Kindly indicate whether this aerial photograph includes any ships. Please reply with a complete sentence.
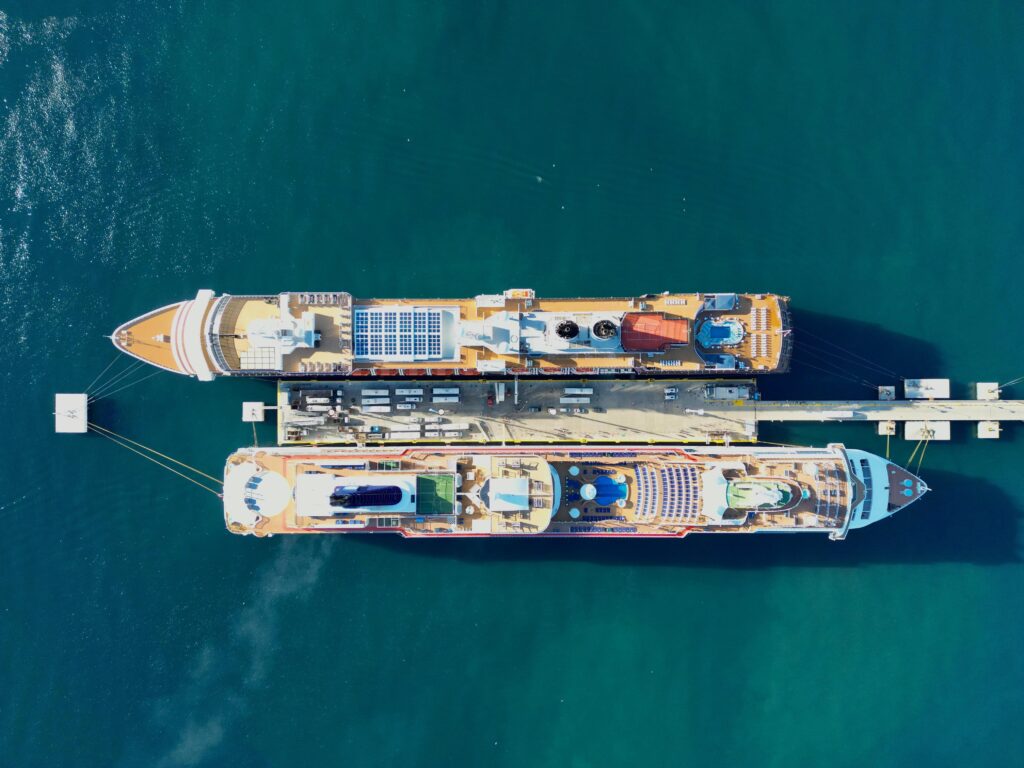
Yes, this view includes a ship.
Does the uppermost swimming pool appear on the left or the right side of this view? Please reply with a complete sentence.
You can find the uppermost swimming pool on the right side of the picture.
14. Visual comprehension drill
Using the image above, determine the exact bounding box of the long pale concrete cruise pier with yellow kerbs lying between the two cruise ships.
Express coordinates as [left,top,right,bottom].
[277,378,759,445]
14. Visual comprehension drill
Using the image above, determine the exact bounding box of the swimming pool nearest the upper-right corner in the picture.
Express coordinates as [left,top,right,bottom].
[697,319,745,348]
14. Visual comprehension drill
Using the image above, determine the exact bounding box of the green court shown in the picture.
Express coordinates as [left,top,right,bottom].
[416,473,455,515]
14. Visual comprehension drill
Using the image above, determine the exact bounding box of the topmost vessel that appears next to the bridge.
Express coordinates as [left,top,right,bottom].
[103,290,794,382]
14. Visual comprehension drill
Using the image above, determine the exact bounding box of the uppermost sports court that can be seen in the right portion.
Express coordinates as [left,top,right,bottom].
[622,312,689,352]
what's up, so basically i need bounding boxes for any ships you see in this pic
[103,290,794,382]
[219,442,933,540]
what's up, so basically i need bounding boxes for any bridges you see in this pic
[757,400,1024,423]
